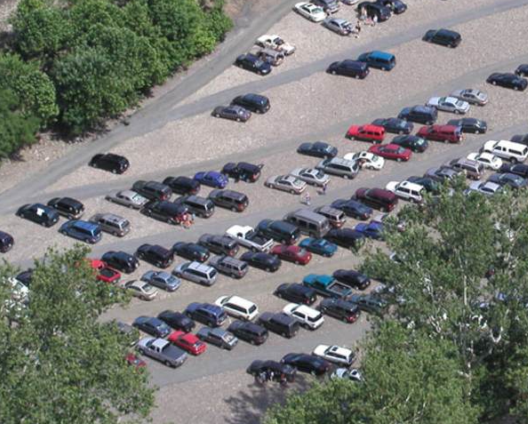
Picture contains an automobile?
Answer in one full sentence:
Yes, there's an automobile down there.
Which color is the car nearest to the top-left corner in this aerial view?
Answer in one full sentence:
From above, the car nearest to the top-left corner appears black.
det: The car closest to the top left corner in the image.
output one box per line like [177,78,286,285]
[89,152,129,175]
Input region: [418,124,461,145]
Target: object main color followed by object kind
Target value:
red car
